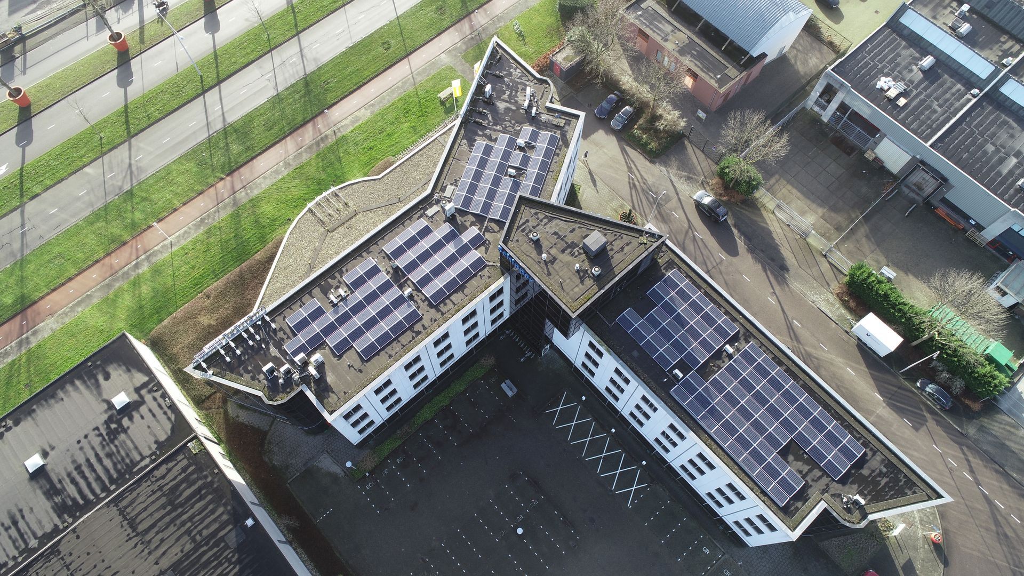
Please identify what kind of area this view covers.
industrial area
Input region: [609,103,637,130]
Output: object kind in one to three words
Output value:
car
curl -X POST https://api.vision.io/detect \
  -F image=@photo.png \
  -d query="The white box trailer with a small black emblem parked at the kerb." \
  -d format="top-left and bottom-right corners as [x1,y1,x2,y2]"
[845,312,904,358]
